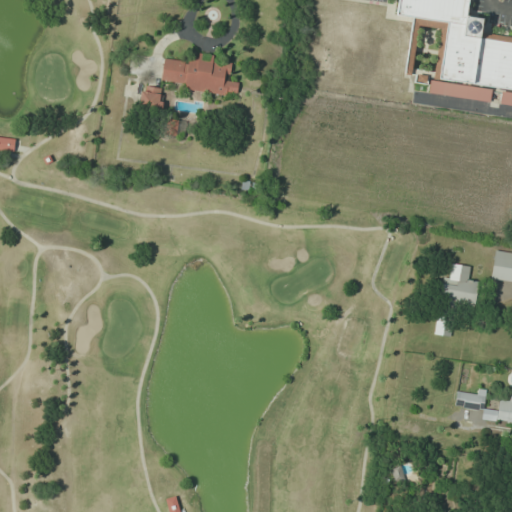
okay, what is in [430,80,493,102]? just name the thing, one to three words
building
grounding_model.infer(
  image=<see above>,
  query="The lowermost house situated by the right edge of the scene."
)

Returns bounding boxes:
[456,388,512,422]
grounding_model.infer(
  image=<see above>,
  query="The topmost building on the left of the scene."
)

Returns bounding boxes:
[162,52,240,96]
